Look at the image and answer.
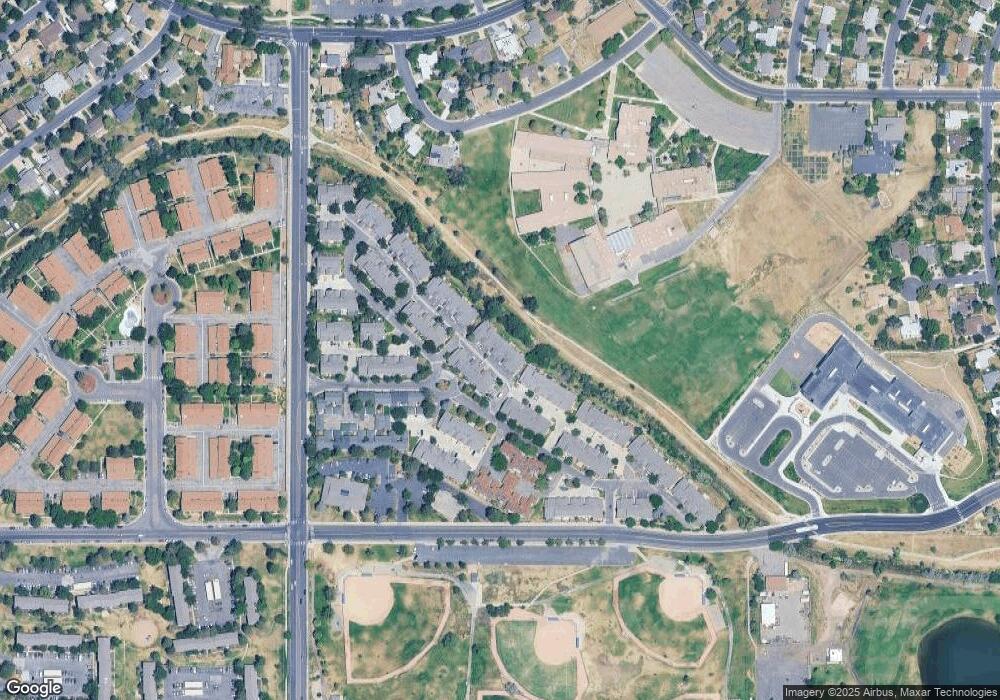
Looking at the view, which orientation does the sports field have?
at an angle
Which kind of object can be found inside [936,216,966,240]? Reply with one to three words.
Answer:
house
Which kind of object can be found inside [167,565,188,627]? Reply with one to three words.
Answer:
building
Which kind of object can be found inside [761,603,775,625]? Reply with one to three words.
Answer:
shed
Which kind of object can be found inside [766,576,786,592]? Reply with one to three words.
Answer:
building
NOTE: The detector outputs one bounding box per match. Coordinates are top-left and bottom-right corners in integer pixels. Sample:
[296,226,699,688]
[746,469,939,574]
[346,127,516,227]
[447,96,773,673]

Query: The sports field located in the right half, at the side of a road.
[446,128,782,438]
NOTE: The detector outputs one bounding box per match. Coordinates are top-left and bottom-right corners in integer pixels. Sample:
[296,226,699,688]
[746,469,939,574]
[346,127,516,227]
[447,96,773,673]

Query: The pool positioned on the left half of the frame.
[121,307,140,338]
